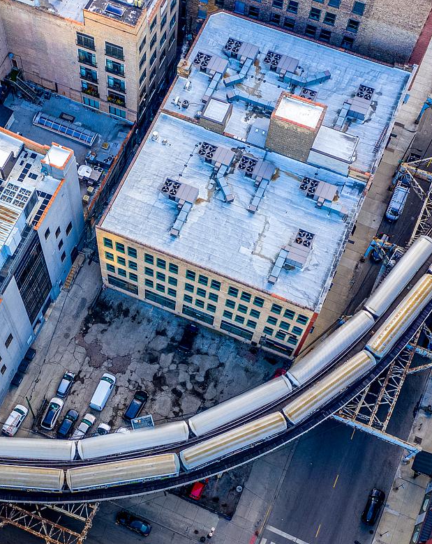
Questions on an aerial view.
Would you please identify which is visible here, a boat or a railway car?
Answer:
railway car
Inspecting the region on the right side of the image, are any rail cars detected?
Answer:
Yes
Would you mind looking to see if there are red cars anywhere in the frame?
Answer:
Yes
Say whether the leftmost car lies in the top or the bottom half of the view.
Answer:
bottom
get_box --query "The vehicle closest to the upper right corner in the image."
[385,187,407,220]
